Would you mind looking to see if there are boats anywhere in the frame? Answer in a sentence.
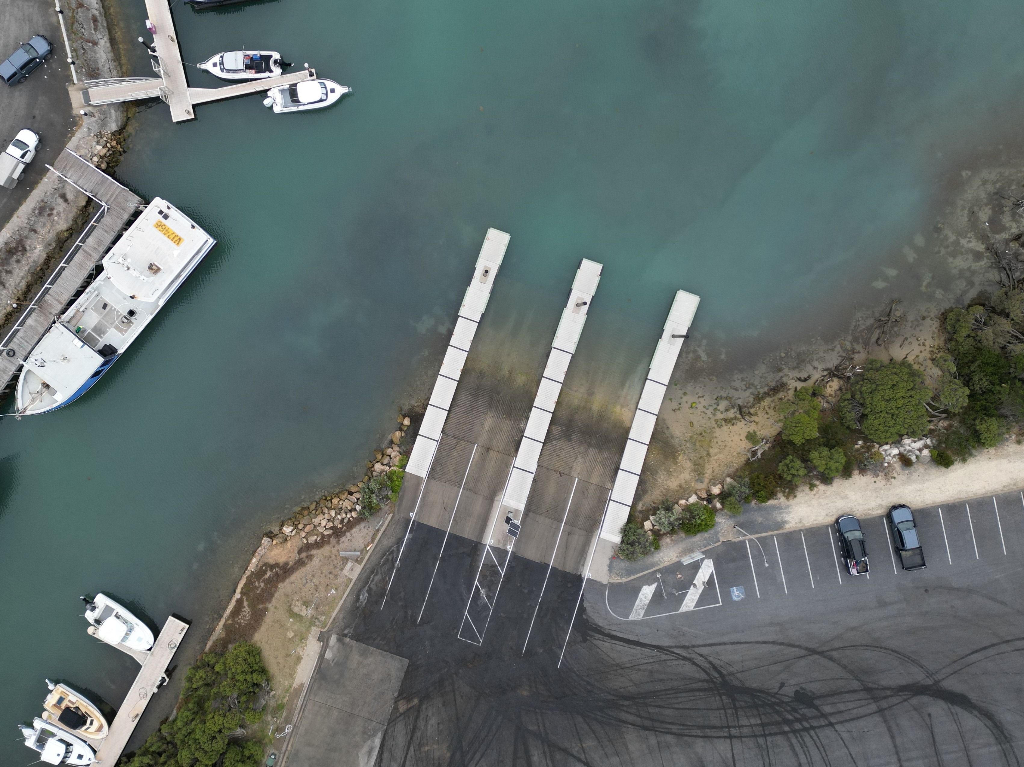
Yes, the photo shows a boat.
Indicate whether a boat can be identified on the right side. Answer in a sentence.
No, no boat can be made out on the right side.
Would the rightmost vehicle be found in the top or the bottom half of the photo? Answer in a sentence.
It is in the bottom half that the rightmost vehicle appears.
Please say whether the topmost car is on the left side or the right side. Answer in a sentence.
The topmost car appears in the left half of the scene.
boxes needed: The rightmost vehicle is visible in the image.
[887,503,927,570]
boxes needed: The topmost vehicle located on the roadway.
[0,30,58,88]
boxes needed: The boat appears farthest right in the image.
[261,76,354,118]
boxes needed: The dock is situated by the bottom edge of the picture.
[39,615,191,767]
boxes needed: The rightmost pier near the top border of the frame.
[145,0,317,123]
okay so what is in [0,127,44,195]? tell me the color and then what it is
white vehicle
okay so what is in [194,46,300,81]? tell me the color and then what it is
white boat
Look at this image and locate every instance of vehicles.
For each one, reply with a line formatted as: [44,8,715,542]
[834,514,874,578]
[0,30,58,88]
[0,127,44,195]
[887,503,927,570]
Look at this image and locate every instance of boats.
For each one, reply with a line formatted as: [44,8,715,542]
[194,46,300,81]
[15,718,100,767]
[83,591,155,652]
[261,76,354,118]
[1,197,215,427]
[43,676,110,739]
